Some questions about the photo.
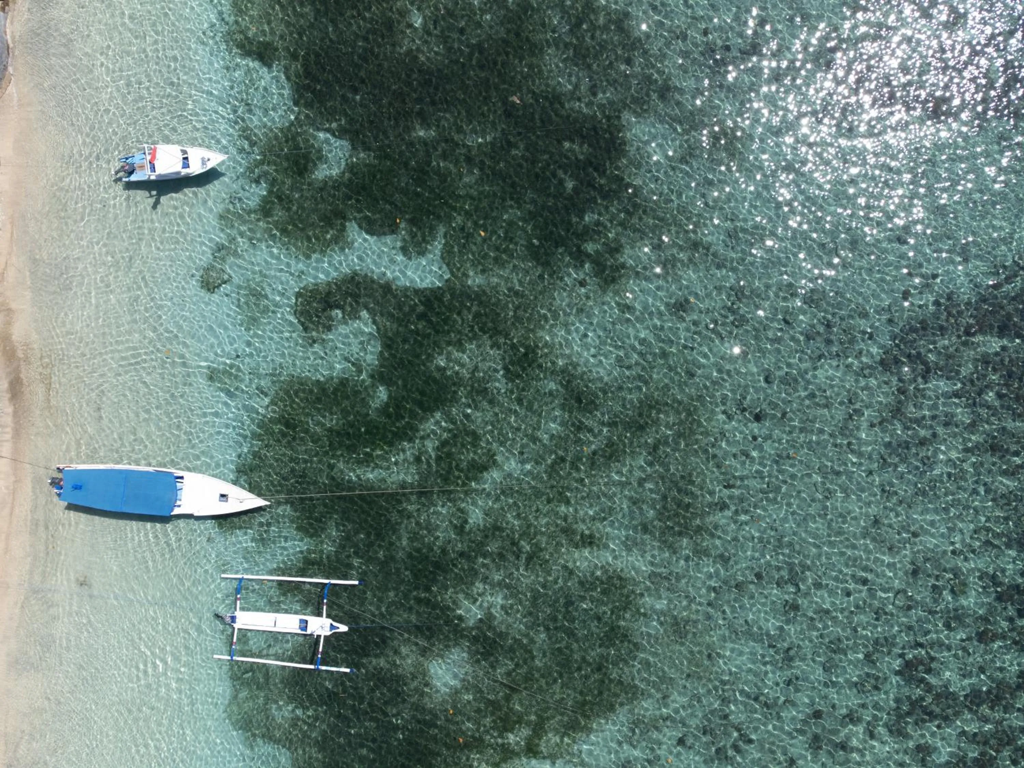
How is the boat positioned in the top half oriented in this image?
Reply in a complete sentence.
The boat positioned in the top half has been laid out from side to side relative to the frame.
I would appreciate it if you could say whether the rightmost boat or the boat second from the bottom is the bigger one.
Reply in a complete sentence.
The boat second from the bottom takes up more space than the rightmost boat.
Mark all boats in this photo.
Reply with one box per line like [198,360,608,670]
[52,464,270,516]
[111,144,228,180]
[213,574,364,672]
